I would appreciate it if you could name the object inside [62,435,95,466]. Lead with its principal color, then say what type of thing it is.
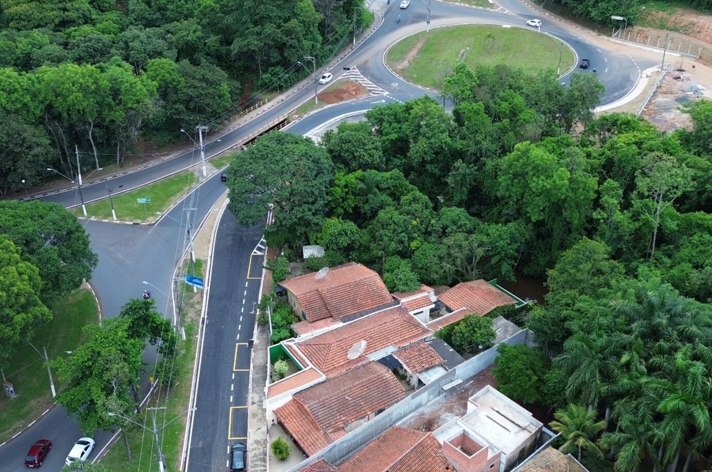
white car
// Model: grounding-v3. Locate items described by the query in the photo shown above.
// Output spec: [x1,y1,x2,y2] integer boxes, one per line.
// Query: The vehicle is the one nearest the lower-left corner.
[24,438,52,467]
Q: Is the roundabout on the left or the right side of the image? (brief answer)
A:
right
